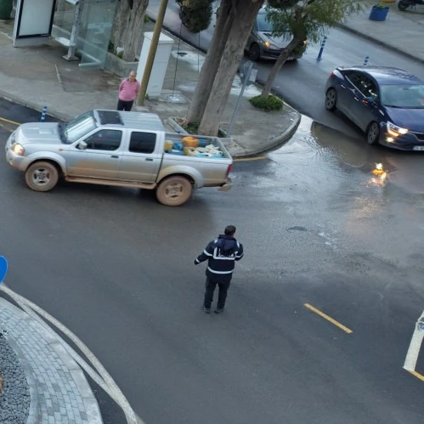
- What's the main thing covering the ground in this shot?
paved ground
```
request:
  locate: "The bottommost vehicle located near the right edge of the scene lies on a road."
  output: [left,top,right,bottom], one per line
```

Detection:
[320,61,424,152]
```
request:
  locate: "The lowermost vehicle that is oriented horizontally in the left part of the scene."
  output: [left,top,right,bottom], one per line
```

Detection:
[7,106,242,205]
